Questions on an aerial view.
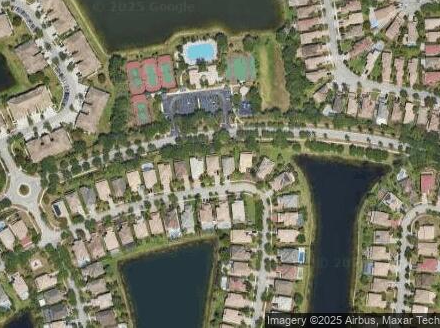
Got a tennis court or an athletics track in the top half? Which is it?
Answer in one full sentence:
Looking in the top half, you will find a tennis court.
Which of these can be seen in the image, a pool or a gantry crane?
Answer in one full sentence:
The one in the frame is a pool.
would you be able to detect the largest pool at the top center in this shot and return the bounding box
[183,40,218,65]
